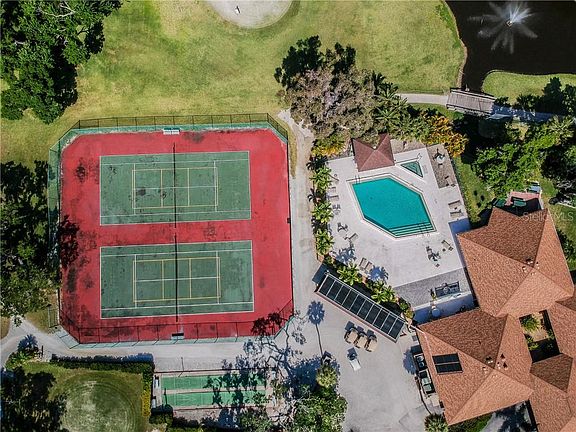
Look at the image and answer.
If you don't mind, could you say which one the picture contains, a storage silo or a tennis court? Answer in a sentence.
This aerial view contains a tennis court.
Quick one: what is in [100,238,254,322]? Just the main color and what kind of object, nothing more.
green tennis court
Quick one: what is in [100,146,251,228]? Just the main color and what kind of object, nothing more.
green tennis court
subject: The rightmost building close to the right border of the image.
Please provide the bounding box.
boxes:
[417,207,576,432]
